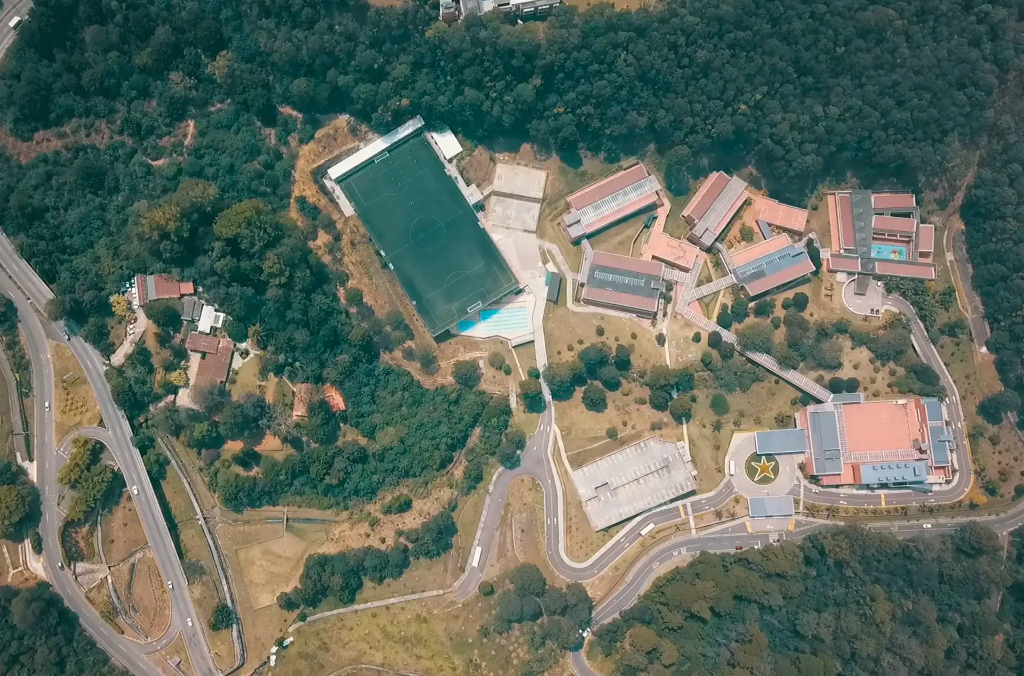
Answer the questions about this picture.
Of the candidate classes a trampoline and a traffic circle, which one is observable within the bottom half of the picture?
traffic circle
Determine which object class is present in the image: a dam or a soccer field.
soccer field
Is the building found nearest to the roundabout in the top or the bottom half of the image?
bottom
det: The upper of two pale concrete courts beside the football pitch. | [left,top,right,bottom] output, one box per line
[492,163,548,201]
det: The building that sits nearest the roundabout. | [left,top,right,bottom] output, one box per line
[792,398,959,493]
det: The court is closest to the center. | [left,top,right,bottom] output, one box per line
[487,196,541,233]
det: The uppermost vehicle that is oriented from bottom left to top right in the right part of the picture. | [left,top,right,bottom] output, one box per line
[638,521,655,537]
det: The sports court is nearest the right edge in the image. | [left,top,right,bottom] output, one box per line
[754,199,808,235]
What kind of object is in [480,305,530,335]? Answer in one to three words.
swimming pool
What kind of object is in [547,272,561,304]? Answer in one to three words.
shed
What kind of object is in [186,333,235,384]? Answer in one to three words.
house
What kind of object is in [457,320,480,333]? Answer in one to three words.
swimming pool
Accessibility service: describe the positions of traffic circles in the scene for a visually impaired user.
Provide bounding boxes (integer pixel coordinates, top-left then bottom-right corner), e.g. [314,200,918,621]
[726,431,804,499]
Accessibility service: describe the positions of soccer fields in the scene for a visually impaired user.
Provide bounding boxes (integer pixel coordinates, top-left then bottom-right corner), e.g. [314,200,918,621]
[336,125,521,337]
